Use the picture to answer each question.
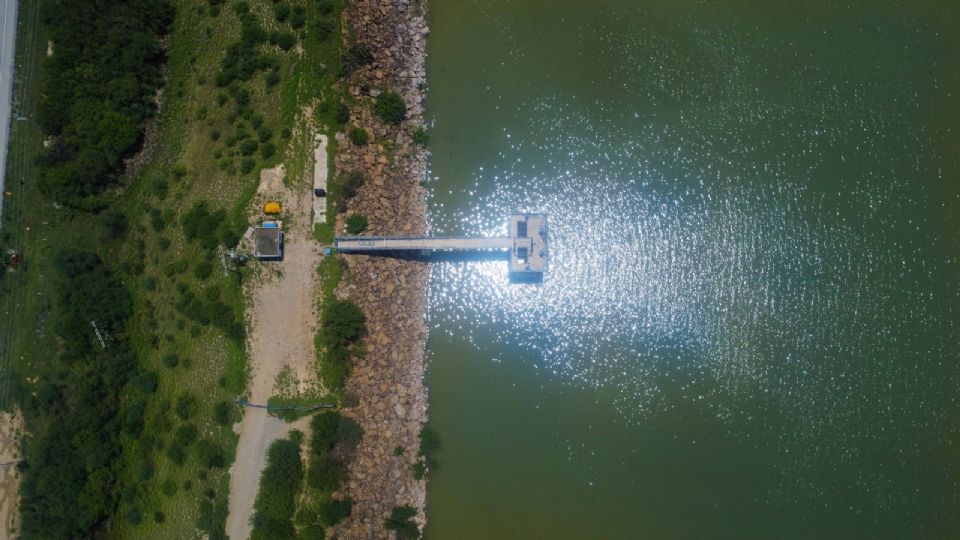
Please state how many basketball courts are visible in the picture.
zero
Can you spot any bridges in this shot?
No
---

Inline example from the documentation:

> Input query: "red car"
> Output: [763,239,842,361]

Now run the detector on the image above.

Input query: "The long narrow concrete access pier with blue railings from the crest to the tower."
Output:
[332,235,512,256]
